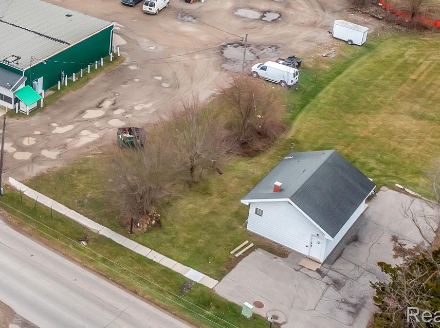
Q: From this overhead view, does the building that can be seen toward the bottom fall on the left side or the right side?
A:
right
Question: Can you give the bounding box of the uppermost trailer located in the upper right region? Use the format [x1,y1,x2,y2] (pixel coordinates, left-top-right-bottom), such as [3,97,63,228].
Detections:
[328,16,372,40]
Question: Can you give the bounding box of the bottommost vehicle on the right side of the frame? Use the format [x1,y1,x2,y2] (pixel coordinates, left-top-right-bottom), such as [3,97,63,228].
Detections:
[252,62,300,86]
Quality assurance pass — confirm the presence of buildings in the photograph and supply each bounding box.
[0,0,117,110]
[239,143,378,266]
